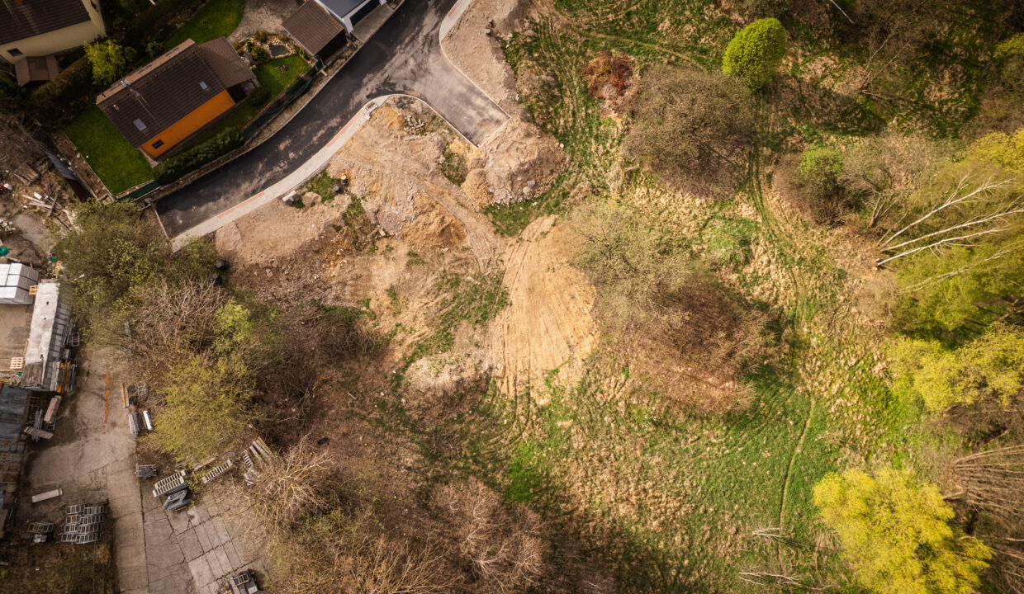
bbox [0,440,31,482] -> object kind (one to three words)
shed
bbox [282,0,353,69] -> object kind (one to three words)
building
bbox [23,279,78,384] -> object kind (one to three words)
shed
